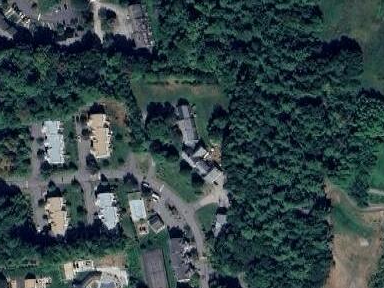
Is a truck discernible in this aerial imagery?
No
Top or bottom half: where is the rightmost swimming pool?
bottom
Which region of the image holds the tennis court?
bottom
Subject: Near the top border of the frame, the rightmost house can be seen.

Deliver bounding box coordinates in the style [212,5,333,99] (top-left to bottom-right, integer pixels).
[126,5,152,49]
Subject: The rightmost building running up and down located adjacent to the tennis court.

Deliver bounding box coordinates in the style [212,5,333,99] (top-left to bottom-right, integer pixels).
[166,237,189,284]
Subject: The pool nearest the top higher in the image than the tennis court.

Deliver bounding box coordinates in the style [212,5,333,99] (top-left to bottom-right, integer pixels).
[129,197,149,236]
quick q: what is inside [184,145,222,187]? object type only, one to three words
house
